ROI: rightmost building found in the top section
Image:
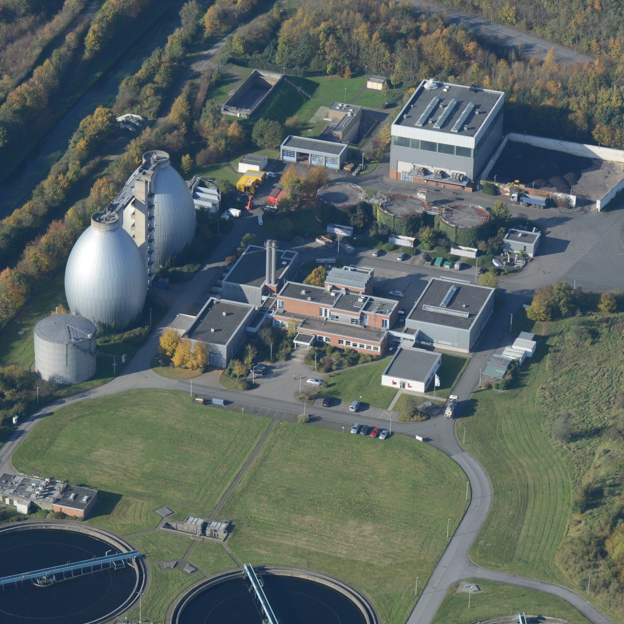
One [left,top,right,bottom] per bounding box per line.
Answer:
[503,228,540,257]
